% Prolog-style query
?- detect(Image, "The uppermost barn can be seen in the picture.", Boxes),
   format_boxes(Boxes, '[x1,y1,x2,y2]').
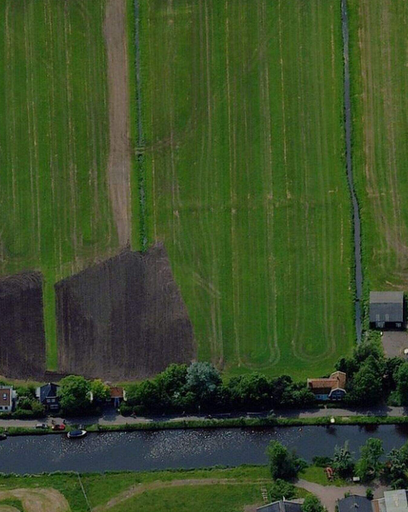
[370,292,405,329]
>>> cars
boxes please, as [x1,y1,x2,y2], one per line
[35,422,49,428]
[52,423,66,429]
